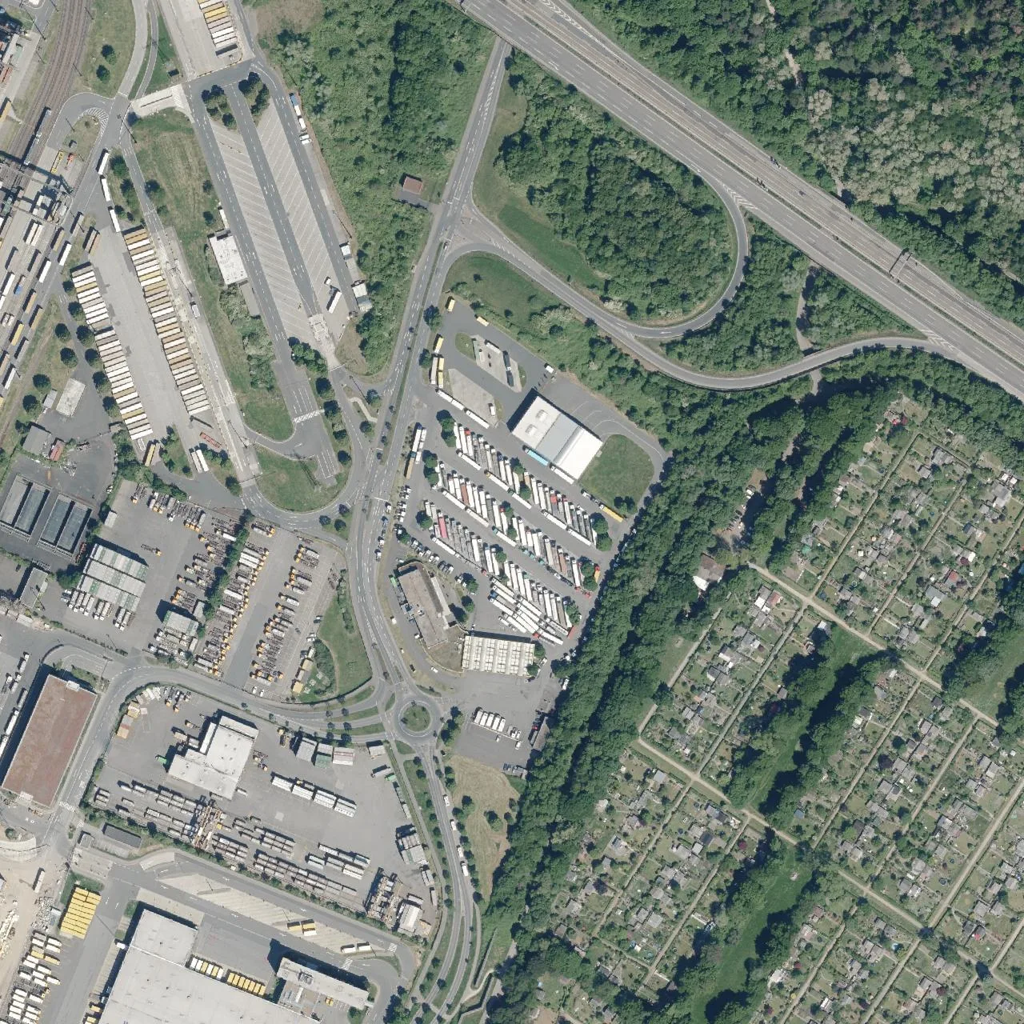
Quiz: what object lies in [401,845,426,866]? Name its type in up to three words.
building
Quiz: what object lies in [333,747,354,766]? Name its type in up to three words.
shed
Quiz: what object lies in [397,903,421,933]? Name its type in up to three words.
shed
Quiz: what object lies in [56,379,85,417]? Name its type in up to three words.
building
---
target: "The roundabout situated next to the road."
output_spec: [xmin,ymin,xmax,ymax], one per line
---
[388,696,446,746]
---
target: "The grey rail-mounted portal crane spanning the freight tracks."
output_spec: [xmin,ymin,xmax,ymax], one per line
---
[0,157,63,231]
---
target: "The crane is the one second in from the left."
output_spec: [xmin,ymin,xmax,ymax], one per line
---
[192,804,226,854]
